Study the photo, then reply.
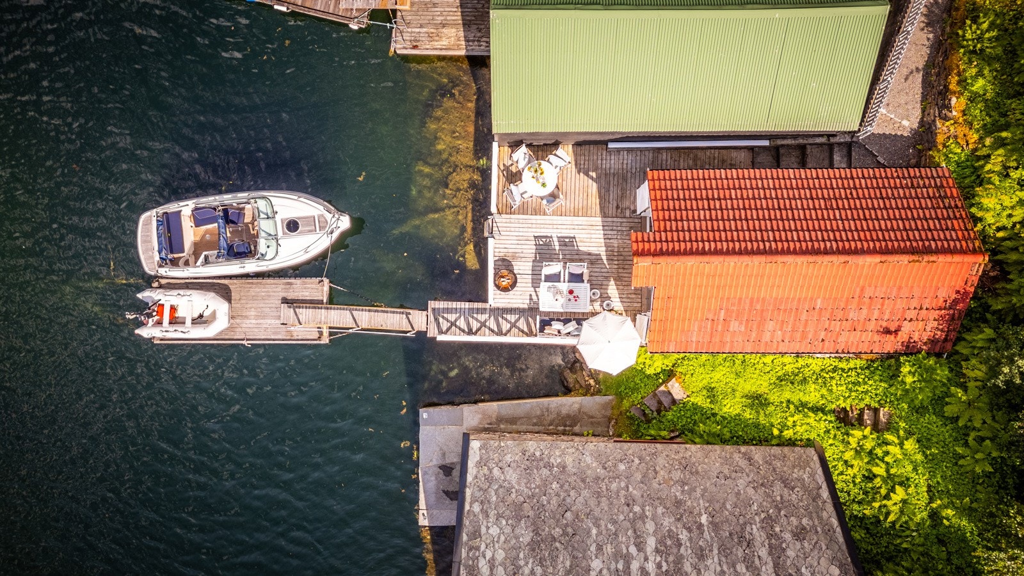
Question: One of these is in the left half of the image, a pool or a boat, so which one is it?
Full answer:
You can see a boat in the left half of the image.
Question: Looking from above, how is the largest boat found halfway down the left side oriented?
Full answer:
In this picture, the largest boat found halfway down the left side is oriented from side to side.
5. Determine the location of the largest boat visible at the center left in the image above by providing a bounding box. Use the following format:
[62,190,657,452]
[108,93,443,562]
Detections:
[135,191,352,279]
